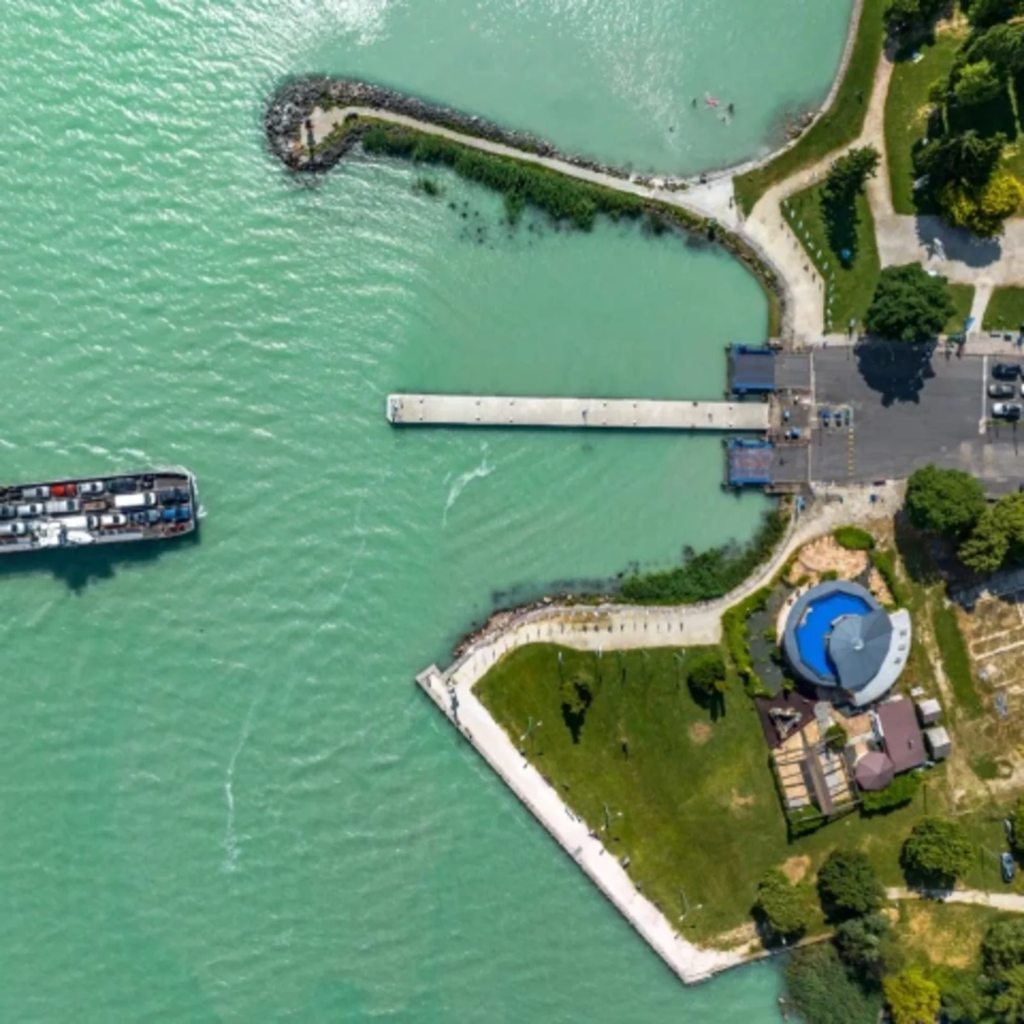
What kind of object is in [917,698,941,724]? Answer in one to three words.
shed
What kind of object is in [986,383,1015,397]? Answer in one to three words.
car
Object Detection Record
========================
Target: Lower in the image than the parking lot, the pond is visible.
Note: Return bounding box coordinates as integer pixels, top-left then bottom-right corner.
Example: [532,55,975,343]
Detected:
[746,577,788,698]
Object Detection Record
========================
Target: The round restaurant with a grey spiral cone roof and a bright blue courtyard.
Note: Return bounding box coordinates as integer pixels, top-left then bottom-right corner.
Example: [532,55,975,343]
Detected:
[780,580,911,703]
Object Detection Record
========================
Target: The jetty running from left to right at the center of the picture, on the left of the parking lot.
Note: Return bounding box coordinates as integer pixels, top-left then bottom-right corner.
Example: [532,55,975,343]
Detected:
[387,396,771,430]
